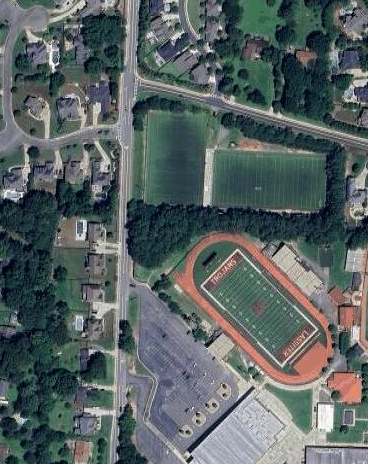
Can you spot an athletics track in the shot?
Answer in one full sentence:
Yes, there is an athletics track in the image.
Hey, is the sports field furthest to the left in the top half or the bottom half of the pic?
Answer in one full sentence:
It is in the top half that the sports field furthest to the left appears.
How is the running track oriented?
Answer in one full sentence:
In this picture, the running track is oriented diagonally.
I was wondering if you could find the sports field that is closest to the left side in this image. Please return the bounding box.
[144,112,206,205]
